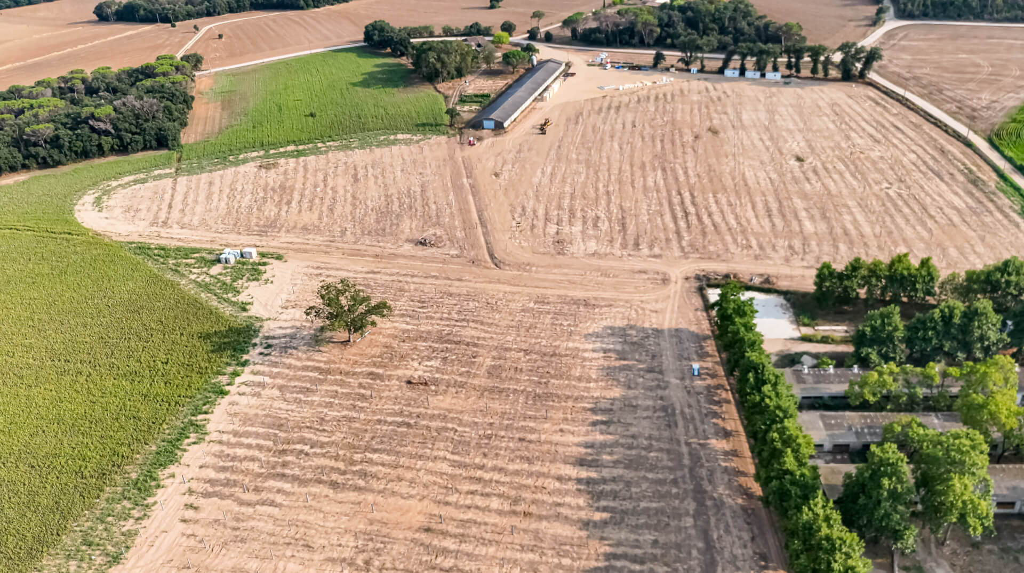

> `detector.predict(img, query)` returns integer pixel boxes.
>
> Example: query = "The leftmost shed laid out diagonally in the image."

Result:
[463,60,558,131]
